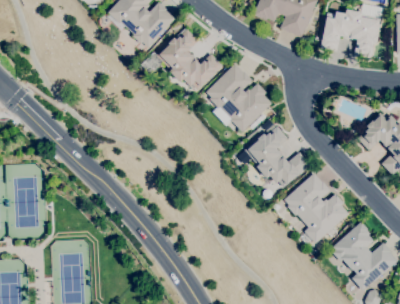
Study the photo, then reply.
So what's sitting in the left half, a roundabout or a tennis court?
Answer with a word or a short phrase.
tennis court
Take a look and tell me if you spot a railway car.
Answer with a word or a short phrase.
No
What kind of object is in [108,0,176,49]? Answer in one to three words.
house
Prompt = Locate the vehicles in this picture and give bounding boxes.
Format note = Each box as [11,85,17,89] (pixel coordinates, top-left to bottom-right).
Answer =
[73,150,83,160]
[170,274,180,285]
[221,29,233,40]
[204,17,214,26]
[138,228,148,239]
